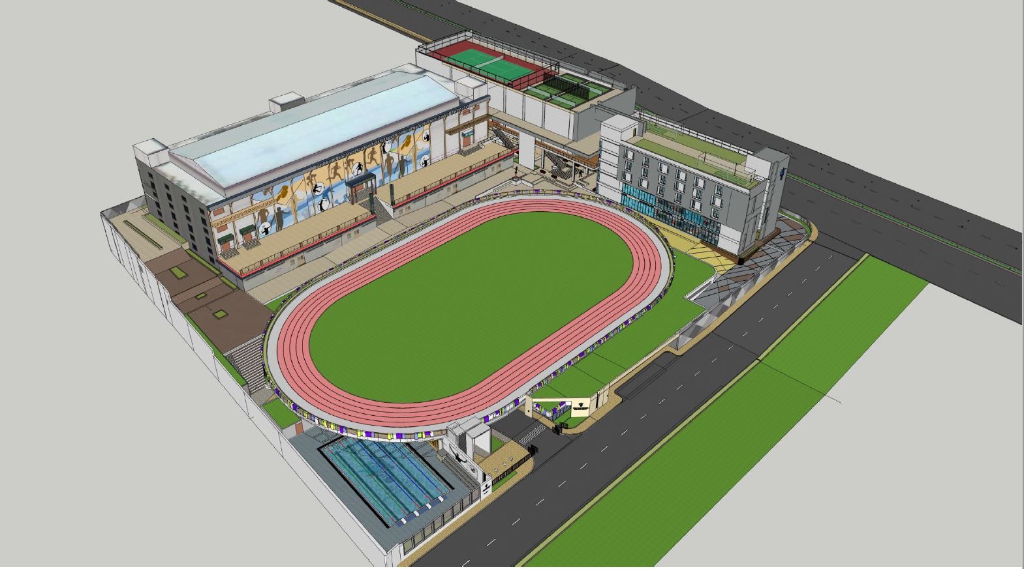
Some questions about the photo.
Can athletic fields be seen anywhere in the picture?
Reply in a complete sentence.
Yes, the image includes an athletic field.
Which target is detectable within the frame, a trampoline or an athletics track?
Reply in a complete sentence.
The one in the frame is an athletics track.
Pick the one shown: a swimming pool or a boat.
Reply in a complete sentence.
It is a swimming pool that can be seen here.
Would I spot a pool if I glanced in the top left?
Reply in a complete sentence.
No, no pool can be made out in the top left.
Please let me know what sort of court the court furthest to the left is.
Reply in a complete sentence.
The court furthest to the left is a tennis court.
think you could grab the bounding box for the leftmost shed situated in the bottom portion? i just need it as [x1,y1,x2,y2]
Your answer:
[262,398,303,438]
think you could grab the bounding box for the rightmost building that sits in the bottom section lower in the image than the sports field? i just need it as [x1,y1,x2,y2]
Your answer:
[446,415,493,462]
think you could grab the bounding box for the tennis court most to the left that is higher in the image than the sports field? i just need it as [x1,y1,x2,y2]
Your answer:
[425,38,557,90]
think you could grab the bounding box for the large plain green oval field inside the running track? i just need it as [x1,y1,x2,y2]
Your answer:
[309,211,632,402]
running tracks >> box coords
[276,198,660,427]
